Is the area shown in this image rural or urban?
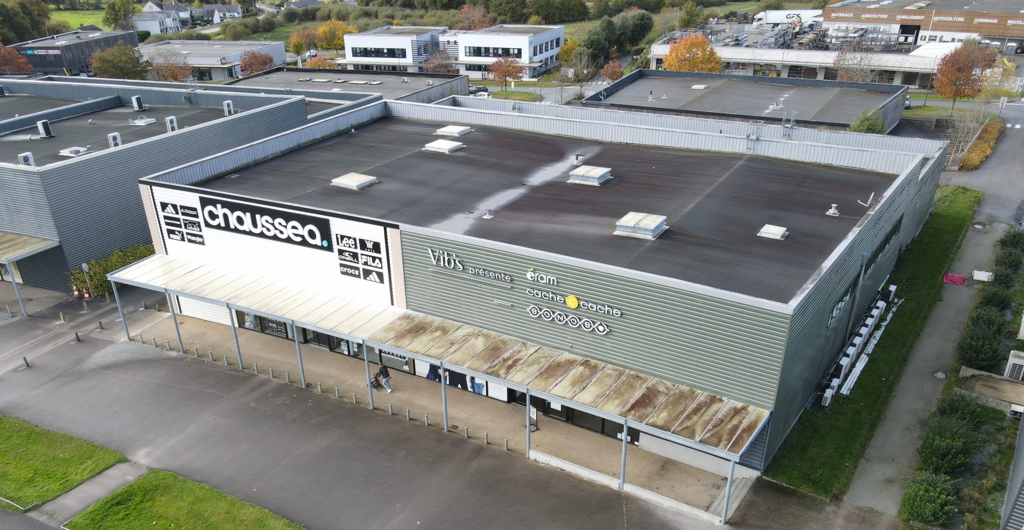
urban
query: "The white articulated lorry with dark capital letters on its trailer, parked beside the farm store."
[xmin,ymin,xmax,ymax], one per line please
[757,10,824,27]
